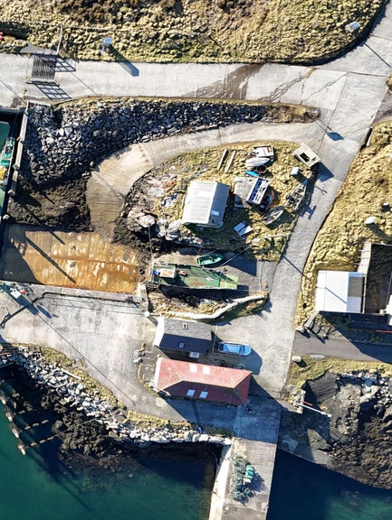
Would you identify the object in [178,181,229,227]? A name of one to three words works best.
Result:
shed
